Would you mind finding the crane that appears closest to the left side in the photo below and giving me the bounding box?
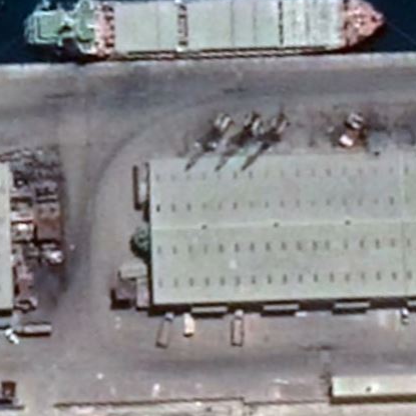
[192,112,231,156]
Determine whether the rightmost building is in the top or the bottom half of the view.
bottom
